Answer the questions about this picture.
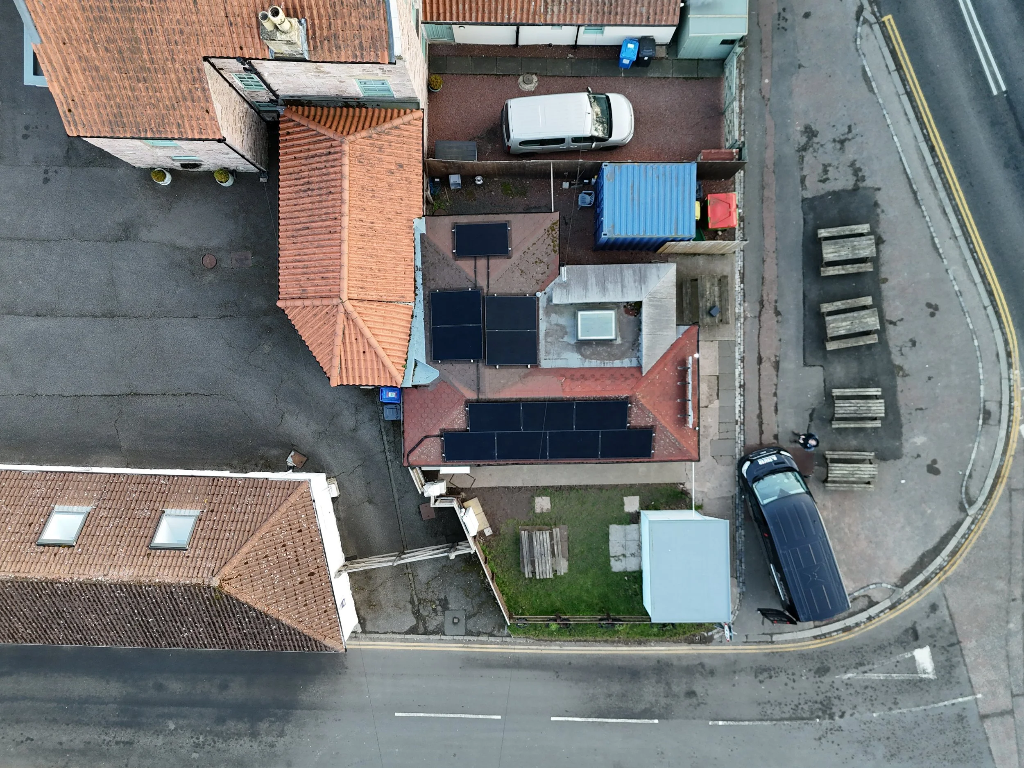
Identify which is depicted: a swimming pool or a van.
van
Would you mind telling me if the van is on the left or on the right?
right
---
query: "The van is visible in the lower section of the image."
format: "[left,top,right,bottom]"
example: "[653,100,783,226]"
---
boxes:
[737,447,847,623]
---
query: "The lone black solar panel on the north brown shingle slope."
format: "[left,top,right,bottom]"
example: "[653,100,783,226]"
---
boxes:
[453,223,511,257]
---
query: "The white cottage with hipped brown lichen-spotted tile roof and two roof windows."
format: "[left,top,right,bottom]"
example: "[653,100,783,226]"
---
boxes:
[0,464,358,656]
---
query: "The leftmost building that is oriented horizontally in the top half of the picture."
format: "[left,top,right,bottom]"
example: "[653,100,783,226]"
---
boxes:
[11,0,428,172]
